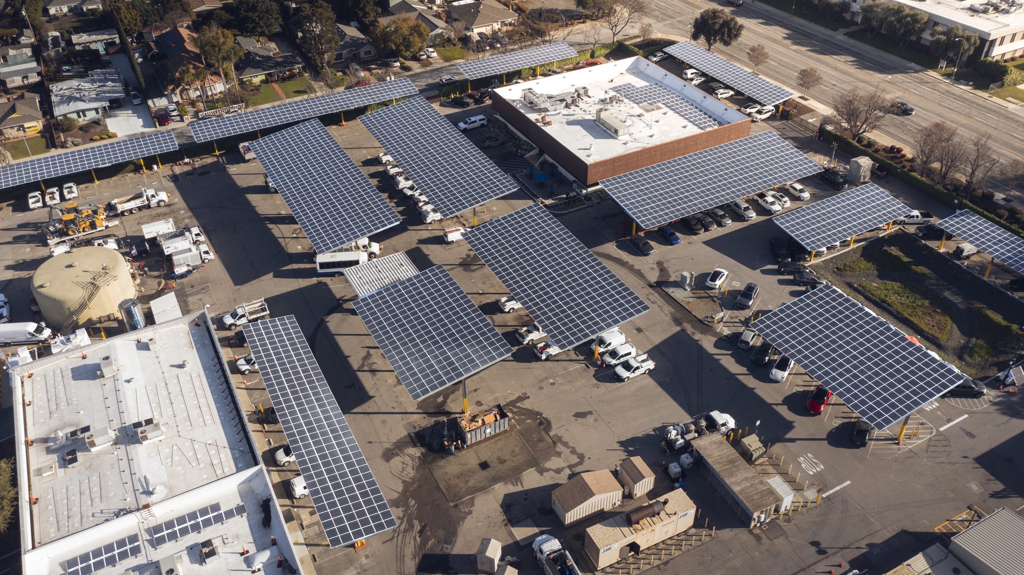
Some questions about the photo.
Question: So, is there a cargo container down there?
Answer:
Yes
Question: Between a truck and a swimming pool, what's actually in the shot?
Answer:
truck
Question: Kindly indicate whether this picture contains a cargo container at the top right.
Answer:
No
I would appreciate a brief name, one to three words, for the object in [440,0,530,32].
house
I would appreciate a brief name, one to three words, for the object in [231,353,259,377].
car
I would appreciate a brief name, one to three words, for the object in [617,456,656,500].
shed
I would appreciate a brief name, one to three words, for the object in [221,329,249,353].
truck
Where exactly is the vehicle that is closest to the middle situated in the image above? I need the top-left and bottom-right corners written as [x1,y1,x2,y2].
[490,294,523,317]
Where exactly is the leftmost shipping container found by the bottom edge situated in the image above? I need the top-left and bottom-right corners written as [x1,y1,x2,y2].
[586,486,697,572]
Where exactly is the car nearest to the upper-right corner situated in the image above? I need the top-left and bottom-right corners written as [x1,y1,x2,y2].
[890,102,916,116]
